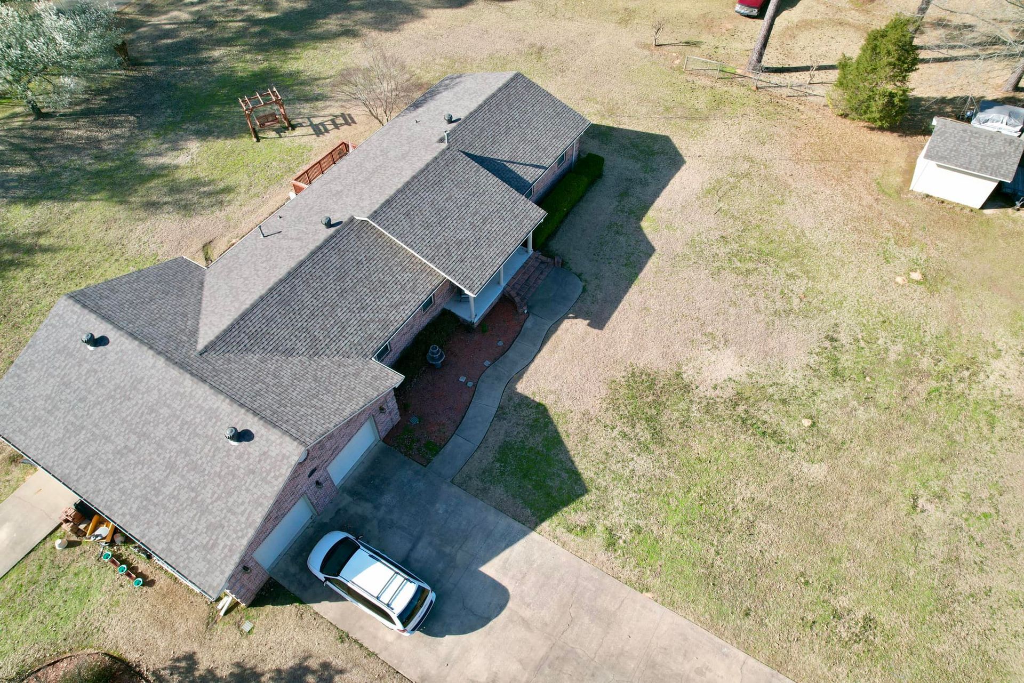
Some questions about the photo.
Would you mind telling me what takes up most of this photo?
grass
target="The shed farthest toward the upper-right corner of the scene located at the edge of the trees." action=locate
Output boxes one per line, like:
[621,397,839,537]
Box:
[912,120,1024,209]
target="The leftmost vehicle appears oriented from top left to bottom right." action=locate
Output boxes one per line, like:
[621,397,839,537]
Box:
[304,529,437,639]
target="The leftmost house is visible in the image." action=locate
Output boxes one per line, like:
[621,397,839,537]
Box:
[0,71,591,608]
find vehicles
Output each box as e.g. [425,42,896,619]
[304,529,437,639]
[730,0,759,16]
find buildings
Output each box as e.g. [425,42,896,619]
[0,71,591,608]
[912,120,1024,209]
